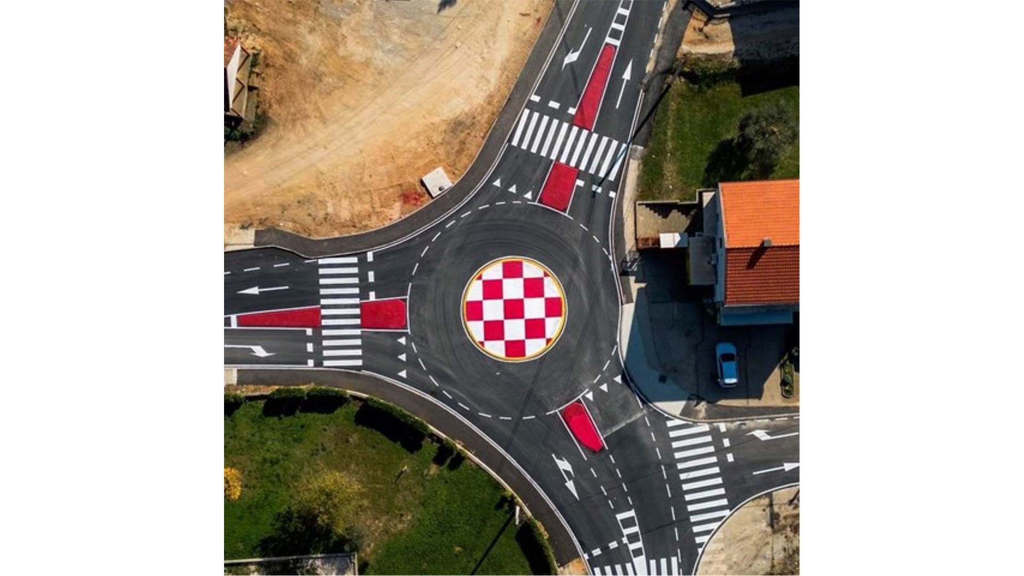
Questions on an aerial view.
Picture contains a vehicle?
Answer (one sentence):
Yes, there's a vehicle down there.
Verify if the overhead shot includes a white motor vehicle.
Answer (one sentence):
No, the picture doesn't show any white motor vehicle.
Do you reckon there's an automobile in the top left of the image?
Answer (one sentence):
No, no automobile appears in the top left of the image.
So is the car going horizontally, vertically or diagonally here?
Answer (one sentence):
What the image shows is the car lying vertically.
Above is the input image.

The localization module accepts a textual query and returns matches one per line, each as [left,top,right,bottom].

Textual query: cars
[716,345,740,390]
